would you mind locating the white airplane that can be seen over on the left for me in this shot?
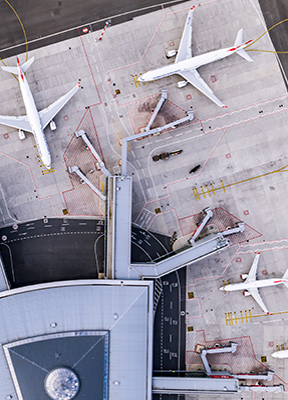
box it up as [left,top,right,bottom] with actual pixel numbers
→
[0,55,82,168]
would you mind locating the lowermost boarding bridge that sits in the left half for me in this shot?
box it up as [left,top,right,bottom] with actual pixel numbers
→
[68,165,107,202]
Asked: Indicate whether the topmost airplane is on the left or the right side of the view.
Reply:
right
